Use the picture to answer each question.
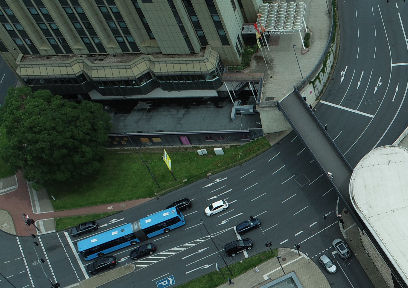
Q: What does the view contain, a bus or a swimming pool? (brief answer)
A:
bus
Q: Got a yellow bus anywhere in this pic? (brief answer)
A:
No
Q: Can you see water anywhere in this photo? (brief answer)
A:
No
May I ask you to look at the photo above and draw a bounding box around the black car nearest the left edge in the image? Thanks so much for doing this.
[70,218,98,236]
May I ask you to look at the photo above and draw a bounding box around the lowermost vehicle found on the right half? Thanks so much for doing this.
[317,253,335,272]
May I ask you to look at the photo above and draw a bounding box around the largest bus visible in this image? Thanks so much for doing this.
[78,205,187,257]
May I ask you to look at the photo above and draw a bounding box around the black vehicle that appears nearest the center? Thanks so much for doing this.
[166,196,193,209]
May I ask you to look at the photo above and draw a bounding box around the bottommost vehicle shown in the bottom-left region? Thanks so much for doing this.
[87,255,116,275]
